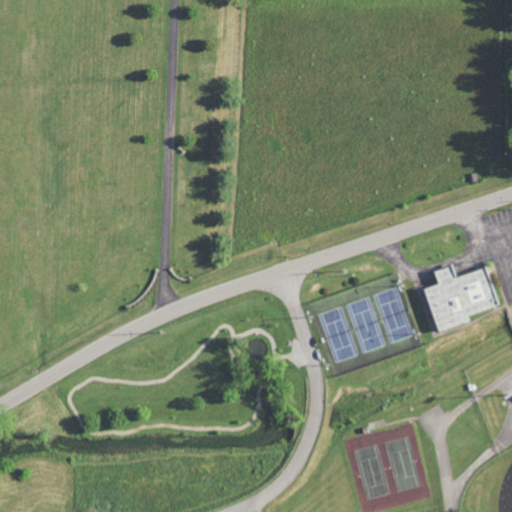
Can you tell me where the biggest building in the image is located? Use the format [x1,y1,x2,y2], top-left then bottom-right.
[424,264,500,332]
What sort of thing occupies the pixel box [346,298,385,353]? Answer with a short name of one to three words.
tennis court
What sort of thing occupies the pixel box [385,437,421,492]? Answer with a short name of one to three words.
tennis court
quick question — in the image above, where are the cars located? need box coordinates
[316,348,322,358]
[312,336,318,347]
